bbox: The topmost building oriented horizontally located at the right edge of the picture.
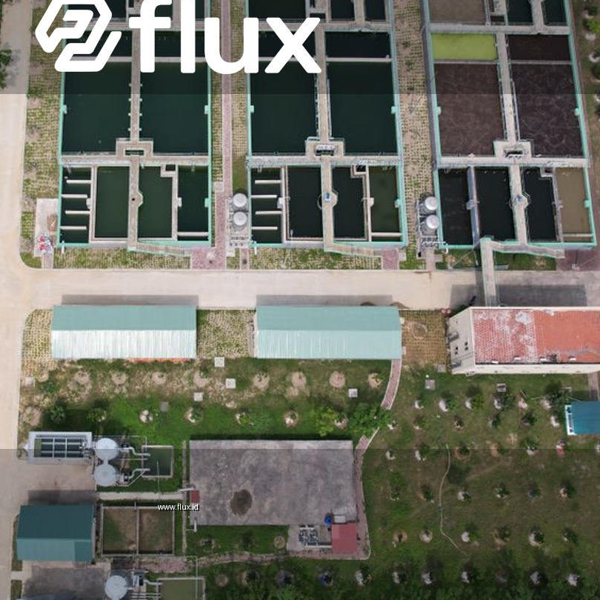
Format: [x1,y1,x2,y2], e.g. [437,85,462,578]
[449,308,600,373]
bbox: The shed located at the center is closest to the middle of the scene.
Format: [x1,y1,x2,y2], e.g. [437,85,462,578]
[253,306,402,360]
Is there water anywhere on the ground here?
Yes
